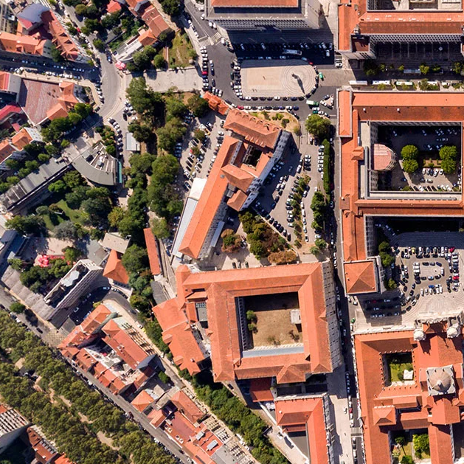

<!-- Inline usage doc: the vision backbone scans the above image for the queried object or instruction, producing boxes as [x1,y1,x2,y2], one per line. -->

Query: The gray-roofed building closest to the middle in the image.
[150,281,172,304]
